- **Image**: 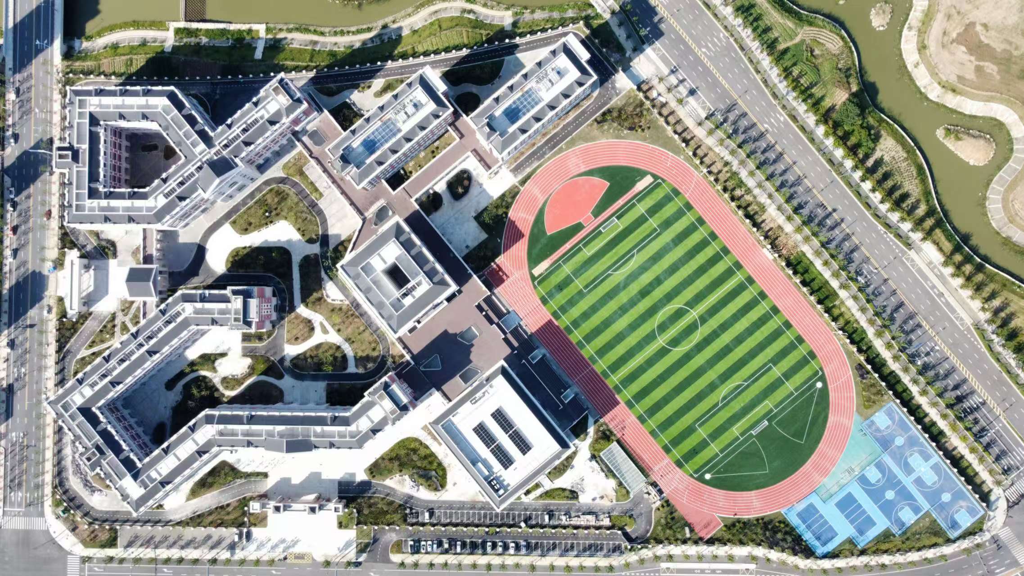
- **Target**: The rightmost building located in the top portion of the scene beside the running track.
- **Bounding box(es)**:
[468,32,598,167]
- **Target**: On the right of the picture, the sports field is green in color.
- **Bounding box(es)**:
[529,165,827,490]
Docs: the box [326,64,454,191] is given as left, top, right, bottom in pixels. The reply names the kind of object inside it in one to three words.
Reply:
building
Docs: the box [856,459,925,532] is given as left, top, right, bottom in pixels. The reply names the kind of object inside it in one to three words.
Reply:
basketball court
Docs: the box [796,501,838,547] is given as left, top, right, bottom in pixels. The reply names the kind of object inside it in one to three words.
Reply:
sports court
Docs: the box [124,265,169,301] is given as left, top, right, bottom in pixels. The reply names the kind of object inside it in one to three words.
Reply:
building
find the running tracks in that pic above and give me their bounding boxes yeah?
[502,139,854,539]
